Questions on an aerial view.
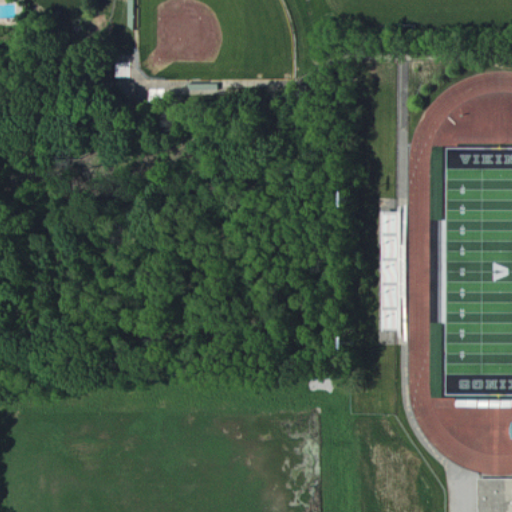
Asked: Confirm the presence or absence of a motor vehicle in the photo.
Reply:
No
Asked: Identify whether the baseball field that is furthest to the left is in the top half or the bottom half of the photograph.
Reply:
top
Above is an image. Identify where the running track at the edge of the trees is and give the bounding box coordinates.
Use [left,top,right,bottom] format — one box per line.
[408,70,512,476]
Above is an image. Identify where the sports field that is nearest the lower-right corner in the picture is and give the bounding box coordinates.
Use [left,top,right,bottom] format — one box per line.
[430,144,512,398]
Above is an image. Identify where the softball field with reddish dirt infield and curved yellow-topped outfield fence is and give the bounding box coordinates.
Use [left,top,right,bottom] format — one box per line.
[138,0,293,80]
